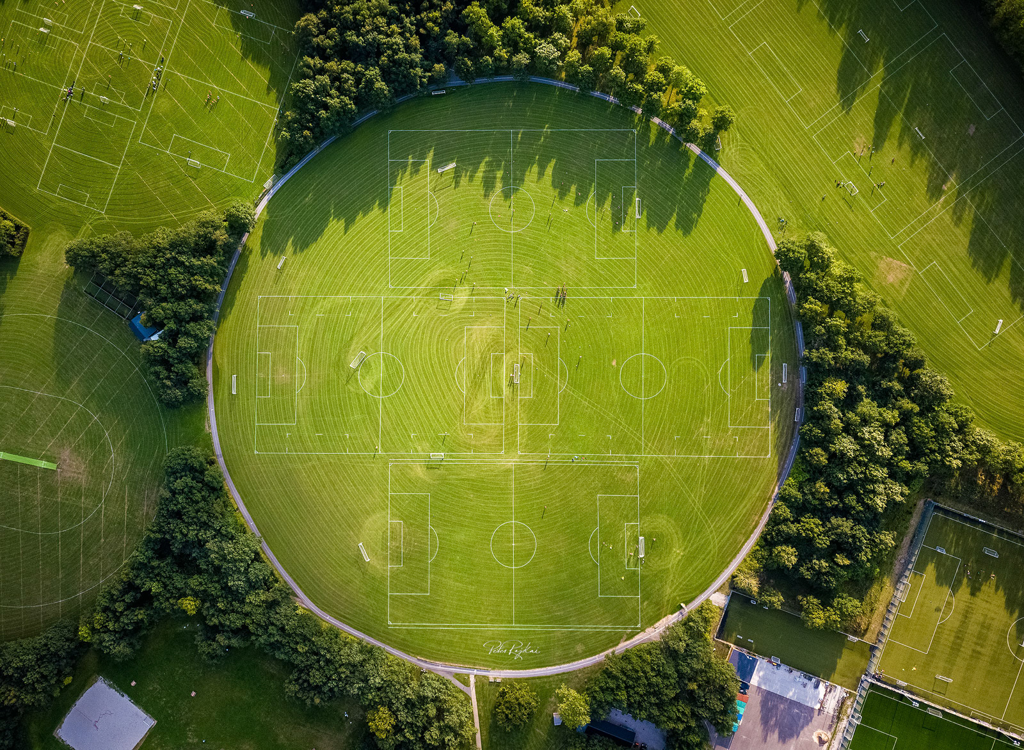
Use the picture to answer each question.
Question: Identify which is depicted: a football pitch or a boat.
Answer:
football pitch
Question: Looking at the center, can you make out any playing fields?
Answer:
Yes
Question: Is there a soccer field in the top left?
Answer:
Yes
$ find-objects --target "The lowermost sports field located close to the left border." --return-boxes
[0,257,173,639]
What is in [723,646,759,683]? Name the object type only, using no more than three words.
building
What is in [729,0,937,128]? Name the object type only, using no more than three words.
soccer field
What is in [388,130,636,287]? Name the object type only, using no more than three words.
soccer field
